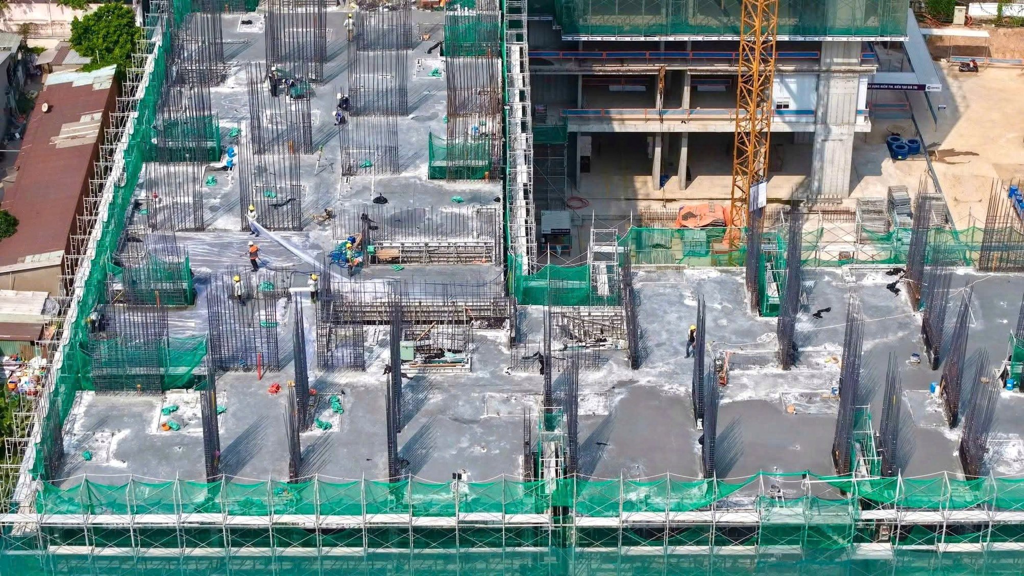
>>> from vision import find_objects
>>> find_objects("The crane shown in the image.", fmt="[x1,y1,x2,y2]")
[723,0,780,232]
